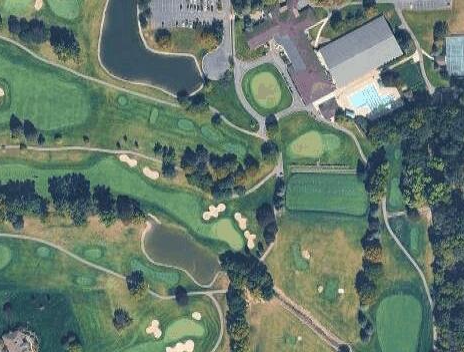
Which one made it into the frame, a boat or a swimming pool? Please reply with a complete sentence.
Of the two, only a swimming pool appears.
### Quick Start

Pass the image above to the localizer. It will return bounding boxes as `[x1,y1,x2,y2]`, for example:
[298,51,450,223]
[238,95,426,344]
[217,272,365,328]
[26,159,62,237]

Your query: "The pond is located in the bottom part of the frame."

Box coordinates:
[144,221,222,286]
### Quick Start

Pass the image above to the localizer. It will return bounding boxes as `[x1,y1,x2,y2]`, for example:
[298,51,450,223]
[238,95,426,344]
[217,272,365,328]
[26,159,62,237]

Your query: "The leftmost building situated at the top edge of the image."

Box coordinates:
[246,0,340,107]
